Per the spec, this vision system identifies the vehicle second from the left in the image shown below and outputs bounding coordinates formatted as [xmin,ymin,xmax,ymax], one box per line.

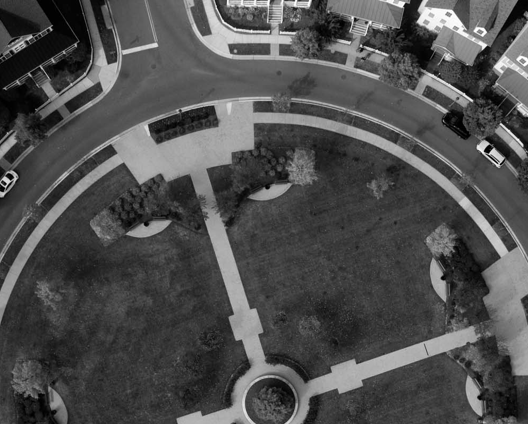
[439,111,475,141]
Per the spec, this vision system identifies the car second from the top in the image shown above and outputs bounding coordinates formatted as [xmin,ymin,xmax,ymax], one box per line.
[475,138,510,170]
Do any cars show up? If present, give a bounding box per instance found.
[0,165,22,202]
[475,138,510,170]
[439,111,475,141]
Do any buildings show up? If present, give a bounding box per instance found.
[416,0,522,70]
[326,0,412,40]
[226,0,310,23]
[0,0,81,92]
[491,21,528,117]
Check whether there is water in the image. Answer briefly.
No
